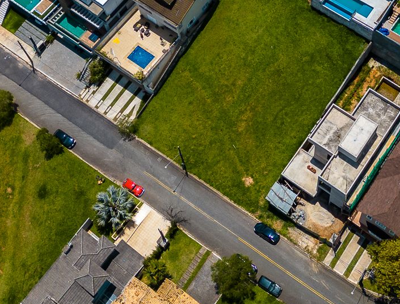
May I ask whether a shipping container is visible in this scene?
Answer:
No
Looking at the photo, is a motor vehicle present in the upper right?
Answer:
No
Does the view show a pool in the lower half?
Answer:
No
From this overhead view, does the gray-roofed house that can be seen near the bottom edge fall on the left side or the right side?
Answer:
left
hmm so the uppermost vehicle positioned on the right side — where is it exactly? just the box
[250,218,283,244]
